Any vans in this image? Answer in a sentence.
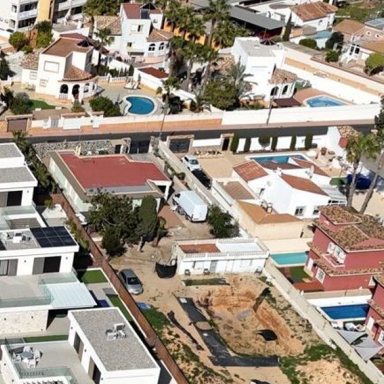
Yes, there's a van down there.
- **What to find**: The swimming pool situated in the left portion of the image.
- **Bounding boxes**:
[125,94,157,112]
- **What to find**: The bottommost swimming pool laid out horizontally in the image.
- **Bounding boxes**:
[319,303,371,321]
